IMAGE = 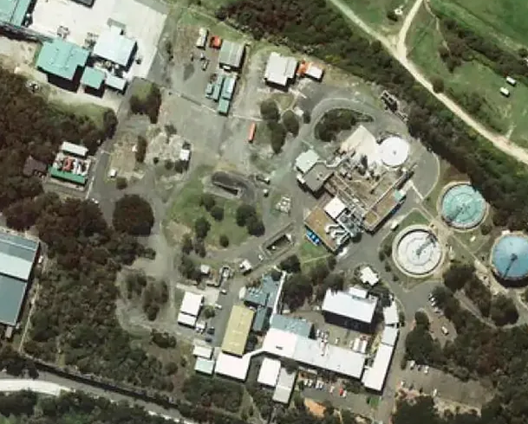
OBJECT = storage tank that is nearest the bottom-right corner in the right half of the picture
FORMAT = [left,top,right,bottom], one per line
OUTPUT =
[488,230,528,282]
